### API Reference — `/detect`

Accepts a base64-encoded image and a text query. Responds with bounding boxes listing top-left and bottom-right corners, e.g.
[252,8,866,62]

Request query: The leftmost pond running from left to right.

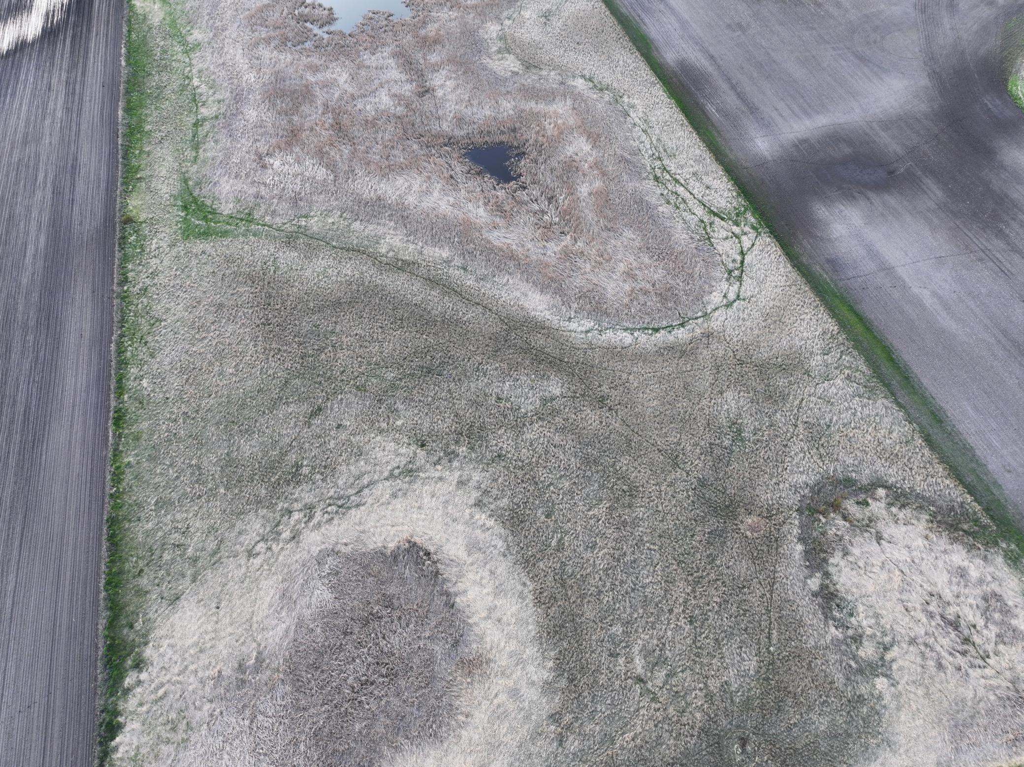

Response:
[284,0,414,47]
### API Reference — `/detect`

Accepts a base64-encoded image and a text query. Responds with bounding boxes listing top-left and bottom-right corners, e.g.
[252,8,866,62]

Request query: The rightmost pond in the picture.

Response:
[461,142,530,187]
